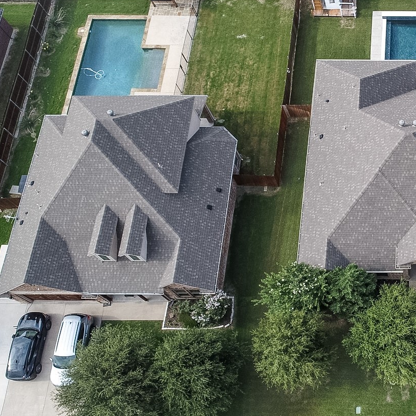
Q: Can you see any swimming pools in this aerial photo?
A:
Yes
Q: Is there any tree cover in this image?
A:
Yes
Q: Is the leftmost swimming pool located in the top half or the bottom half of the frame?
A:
top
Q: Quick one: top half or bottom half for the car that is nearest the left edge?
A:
bottom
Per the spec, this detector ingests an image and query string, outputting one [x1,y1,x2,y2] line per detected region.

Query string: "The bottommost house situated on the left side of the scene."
[0,94,242,308]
